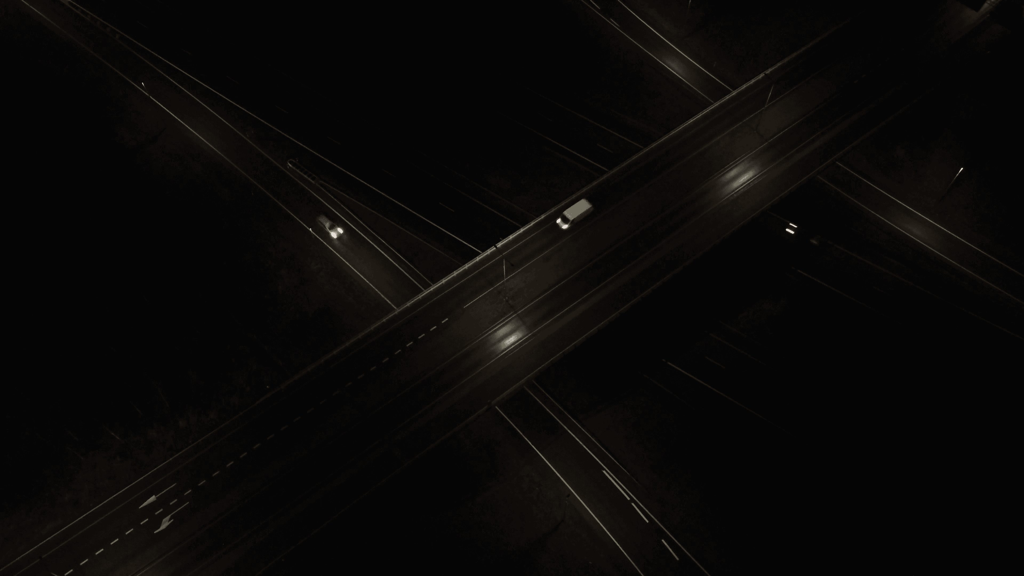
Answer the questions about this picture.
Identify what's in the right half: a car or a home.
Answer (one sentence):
The one visible in the right half is a car.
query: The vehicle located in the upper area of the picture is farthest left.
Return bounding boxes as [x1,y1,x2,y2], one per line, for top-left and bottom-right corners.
[315,214,341,237]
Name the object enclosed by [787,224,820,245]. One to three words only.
car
